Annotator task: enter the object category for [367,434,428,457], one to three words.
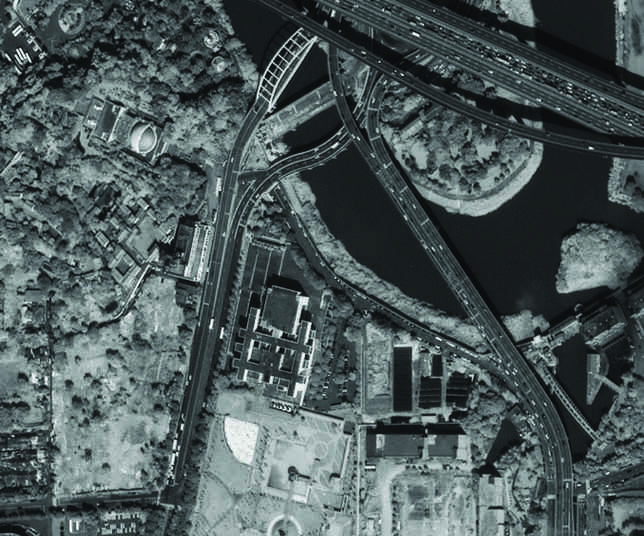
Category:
building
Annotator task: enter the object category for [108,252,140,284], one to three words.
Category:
house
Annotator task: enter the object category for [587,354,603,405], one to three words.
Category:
pier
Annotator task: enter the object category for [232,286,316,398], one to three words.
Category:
building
